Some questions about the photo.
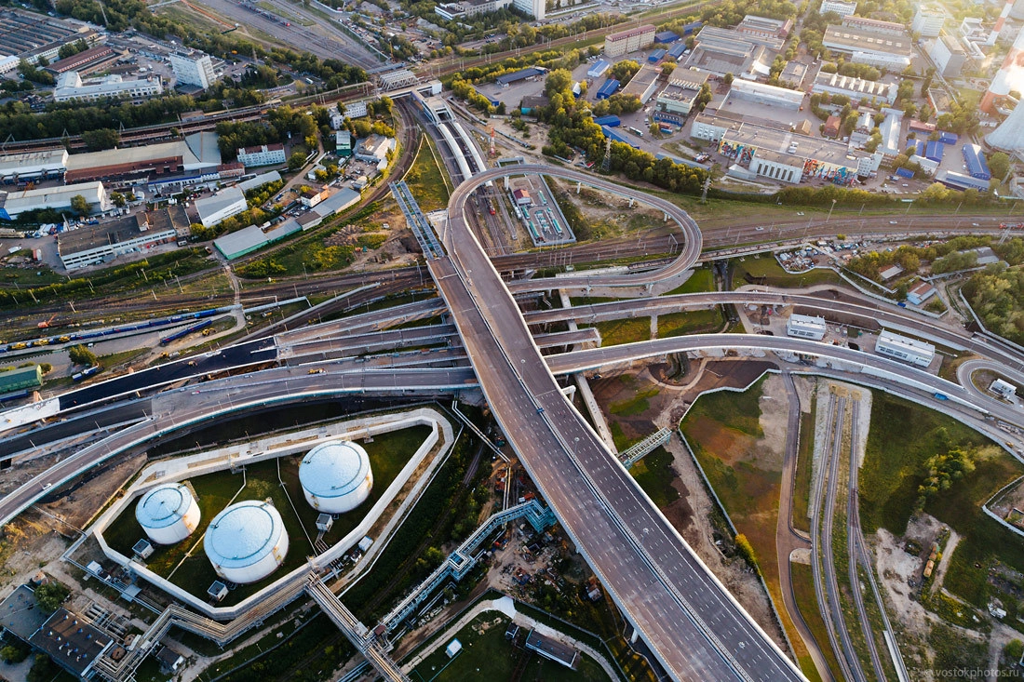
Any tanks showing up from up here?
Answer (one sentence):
Yes, a tank can be made out from above.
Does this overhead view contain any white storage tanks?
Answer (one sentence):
Yes, I can see a white storage tank in this picture.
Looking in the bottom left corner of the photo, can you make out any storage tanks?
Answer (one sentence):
Yes, the scene does show a storage tank in the bottom left corner of the photo.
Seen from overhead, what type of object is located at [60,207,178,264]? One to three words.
building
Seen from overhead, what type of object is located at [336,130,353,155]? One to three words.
house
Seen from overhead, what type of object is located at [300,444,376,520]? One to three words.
storage tank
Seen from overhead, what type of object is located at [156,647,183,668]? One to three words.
shed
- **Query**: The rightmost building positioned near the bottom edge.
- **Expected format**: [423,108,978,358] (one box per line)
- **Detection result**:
[525,633,577,670]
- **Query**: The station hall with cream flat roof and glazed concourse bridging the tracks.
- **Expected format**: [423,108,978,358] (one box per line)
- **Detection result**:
[380,80,457,129]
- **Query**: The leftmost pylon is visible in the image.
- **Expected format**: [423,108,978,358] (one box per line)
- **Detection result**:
[601,133,616,172]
